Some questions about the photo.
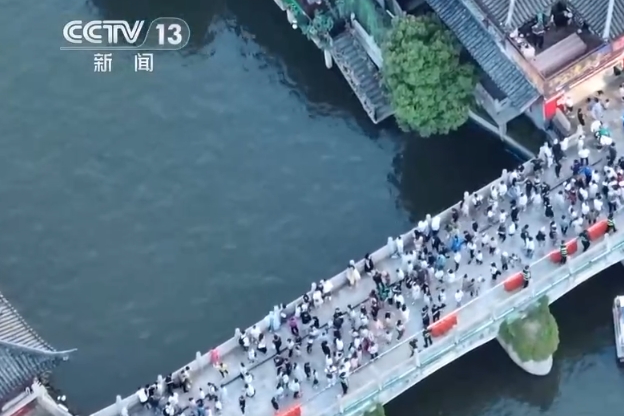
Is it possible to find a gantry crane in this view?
No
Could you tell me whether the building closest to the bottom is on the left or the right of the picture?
left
